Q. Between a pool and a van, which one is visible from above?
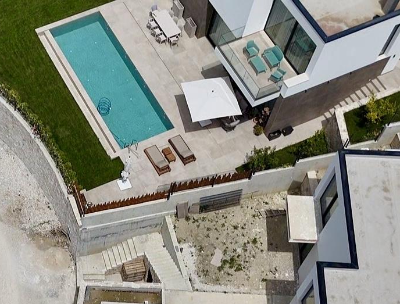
pool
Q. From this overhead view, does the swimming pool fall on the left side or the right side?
left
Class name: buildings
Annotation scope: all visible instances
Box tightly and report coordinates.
[170,0,400,137]
[286,148,400,304]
